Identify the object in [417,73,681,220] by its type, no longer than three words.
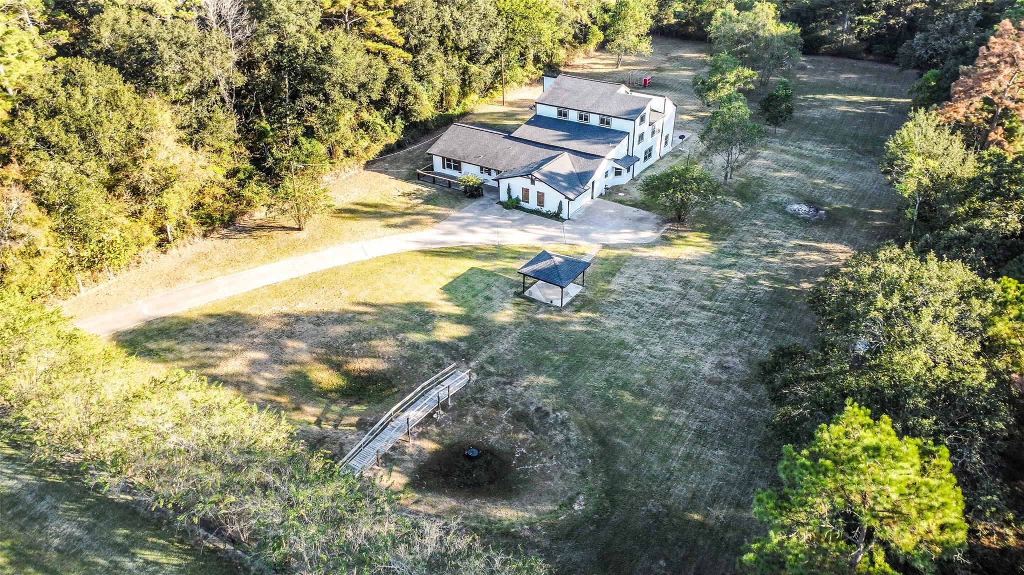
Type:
house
